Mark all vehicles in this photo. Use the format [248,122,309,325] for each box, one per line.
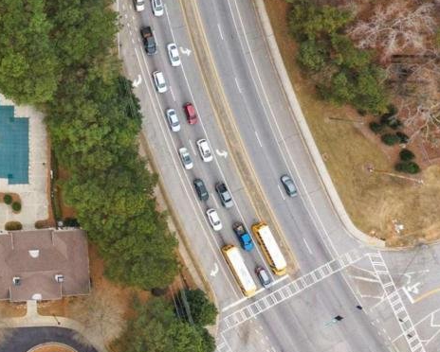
[232,221,252,250]
[219,242,257,298]
[279,173,297,198]
[206,208,221,231]
[253,264,271,289]
[139,26,157,54]
[178,145,193,170]
[181,101,198,124]
[151,69,167,93]
[196,138,211,162]
[150,0,163,17]
[164,108,180,132]
[249,220,288,275]
[213,180,233,209]
[132,0,144,12]
[166,42,181,67]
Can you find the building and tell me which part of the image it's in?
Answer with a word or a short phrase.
bottom left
